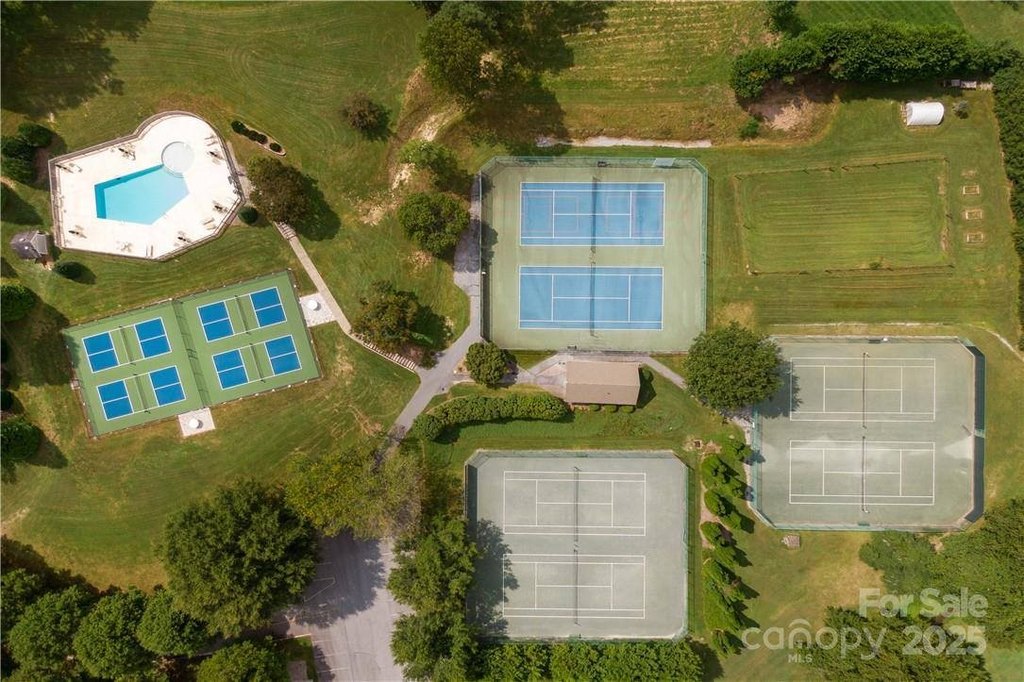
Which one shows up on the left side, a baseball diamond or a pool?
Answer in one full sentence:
There is a pool on the left side.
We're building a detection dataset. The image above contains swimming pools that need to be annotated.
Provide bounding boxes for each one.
[52,111,251,264]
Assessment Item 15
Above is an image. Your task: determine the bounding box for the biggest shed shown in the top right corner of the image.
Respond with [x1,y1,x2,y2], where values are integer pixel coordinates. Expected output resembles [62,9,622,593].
[905,102,944,126]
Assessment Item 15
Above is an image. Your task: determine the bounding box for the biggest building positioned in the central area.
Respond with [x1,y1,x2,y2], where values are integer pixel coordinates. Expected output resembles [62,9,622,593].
[566,360,641,406]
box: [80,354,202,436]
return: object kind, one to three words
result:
sports court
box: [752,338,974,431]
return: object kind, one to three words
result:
tennis court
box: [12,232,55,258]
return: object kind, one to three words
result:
building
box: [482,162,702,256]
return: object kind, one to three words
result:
tennis court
